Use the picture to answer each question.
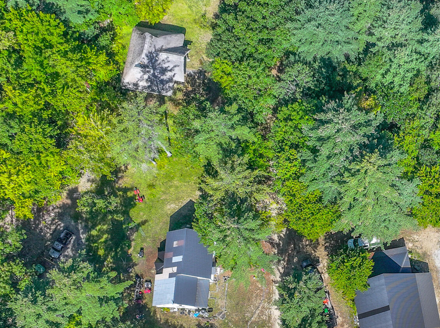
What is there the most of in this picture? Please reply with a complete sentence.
What you mostly see from above here is trees.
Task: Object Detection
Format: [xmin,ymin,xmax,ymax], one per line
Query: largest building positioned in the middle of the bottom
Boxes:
[152,227,218,309]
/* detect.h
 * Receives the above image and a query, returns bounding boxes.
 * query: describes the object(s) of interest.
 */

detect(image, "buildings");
[352,272,440,328]
[152,227,218,309]
[121,27,194,98]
